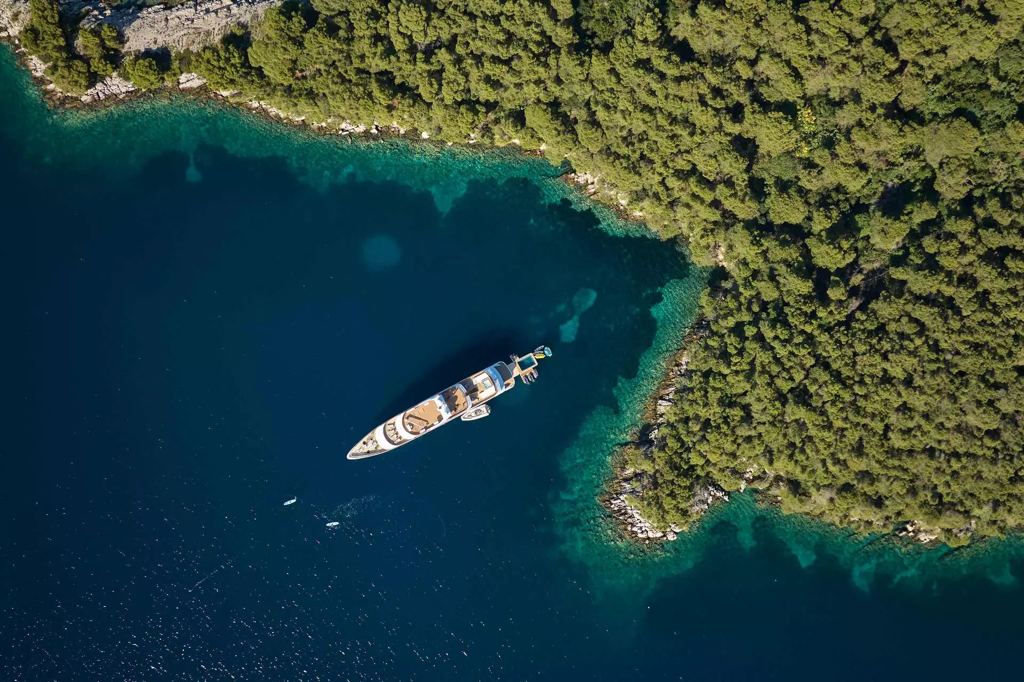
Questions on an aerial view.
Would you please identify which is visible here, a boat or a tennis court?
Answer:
boat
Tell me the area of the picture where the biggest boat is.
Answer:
center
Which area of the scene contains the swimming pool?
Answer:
center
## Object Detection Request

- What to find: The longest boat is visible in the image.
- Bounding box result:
[347,362,514,459]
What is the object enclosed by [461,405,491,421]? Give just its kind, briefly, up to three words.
boat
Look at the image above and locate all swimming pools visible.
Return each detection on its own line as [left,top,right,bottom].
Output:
[515,353,537,373]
